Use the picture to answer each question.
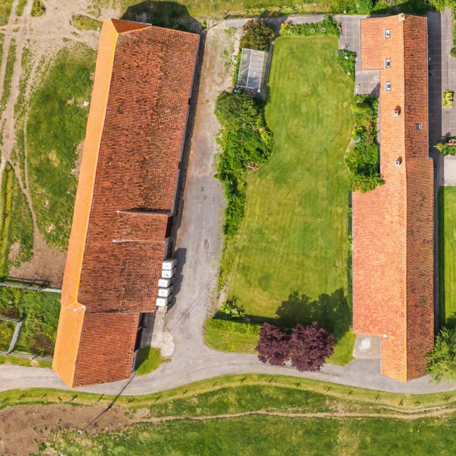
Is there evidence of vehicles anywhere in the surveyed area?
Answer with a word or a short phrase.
No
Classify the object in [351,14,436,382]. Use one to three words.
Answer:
house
